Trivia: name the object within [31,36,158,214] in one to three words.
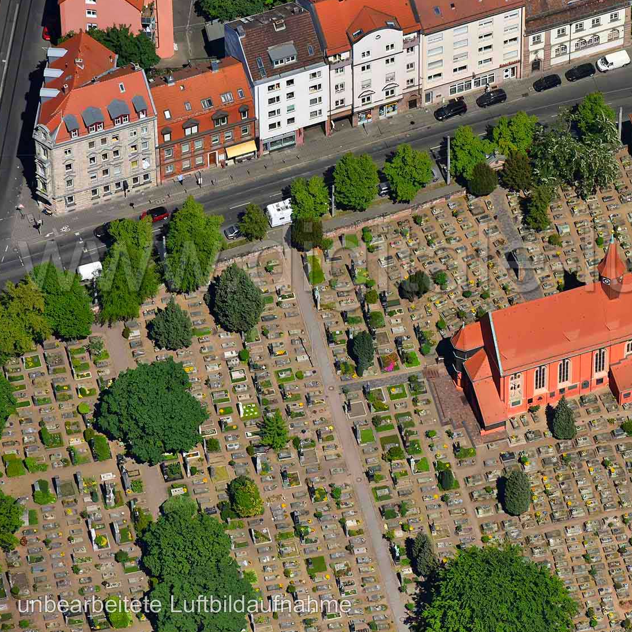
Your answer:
house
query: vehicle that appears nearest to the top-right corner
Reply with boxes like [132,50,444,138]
[596,47,631,71]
